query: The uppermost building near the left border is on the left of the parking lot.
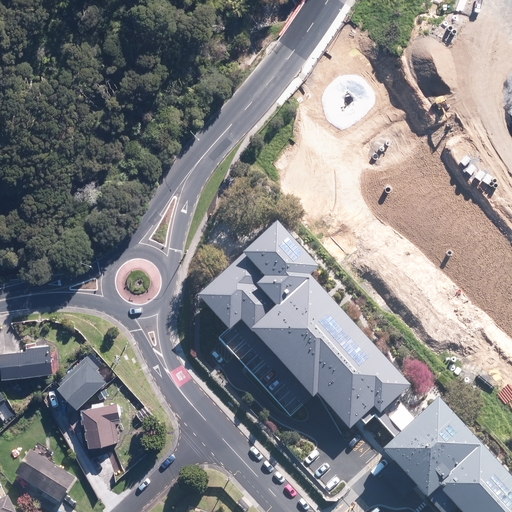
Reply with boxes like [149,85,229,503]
[0,344,58,380]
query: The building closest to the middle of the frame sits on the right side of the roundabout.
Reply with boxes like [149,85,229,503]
[199,220,412,428]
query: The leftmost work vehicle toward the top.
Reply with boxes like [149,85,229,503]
[436,94,448,118]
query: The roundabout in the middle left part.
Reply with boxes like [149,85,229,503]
[116,258,162,305]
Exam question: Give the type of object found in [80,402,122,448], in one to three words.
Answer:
house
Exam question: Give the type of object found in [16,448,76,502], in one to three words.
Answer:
house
